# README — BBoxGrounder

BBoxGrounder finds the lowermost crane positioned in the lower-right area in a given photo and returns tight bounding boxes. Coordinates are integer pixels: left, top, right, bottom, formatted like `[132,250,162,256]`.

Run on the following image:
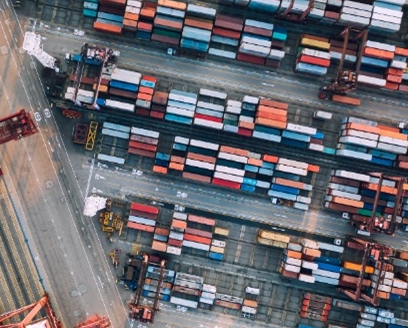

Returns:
[338,235,387,306]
